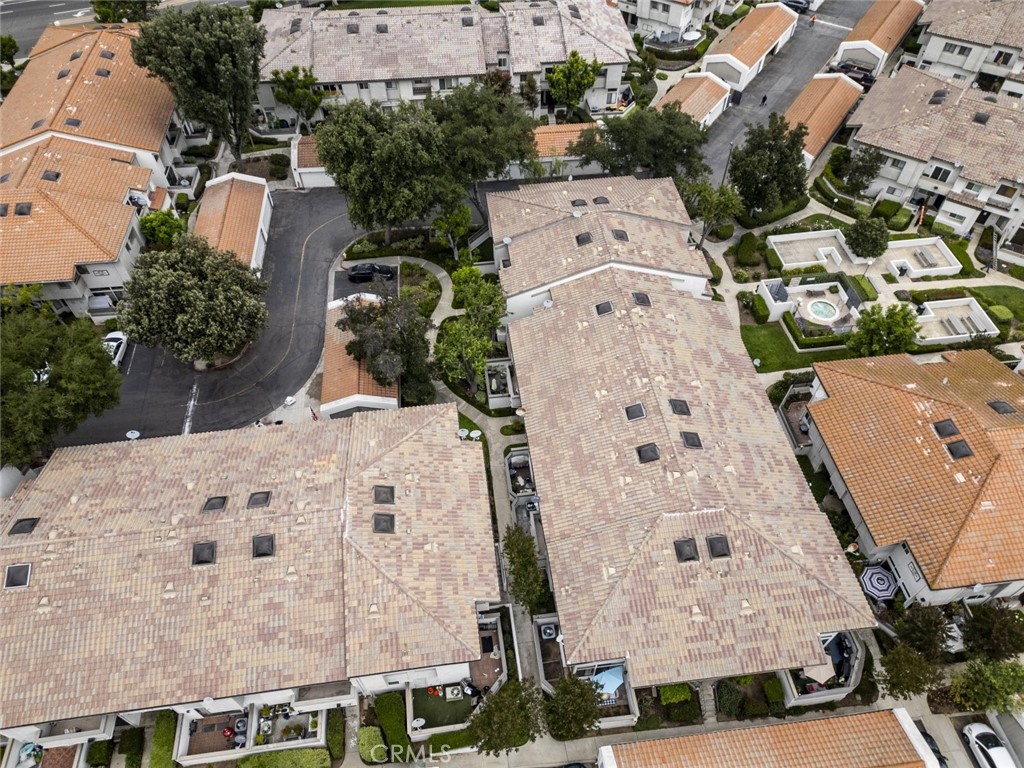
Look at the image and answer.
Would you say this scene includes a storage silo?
No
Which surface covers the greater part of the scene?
buildings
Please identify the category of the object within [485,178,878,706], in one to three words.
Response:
house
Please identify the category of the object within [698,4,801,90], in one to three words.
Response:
building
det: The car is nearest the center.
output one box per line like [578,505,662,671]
[347,259,395,282]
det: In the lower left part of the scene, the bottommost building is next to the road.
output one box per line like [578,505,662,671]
[0,402,502,749]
